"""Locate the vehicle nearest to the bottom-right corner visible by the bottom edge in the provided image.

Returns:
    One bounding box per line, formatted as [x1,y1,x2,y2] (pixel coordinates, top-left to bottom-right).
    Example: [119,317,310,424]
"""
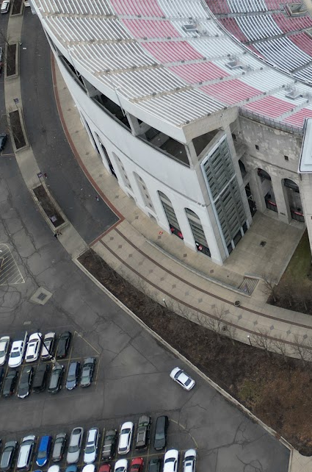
[179,448,198,472]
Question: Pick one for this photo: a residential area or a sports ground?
sports ground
